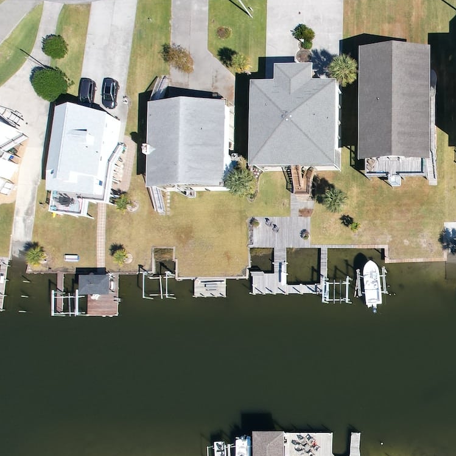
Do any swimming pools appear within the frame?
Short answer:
No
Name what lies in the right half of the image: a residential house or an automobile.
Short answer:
residential house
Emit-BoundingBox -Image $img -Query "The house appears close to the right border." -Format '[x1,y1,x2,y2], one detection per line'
[358,40,437,187]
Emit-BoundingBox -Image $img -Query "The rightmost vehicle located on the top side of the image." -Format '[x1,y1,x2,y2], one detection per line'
[101,77,120,110]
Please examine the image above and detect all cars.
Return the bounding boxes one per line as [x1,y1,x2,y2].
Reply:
[101,77,120,110]
[78,73,97,107]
